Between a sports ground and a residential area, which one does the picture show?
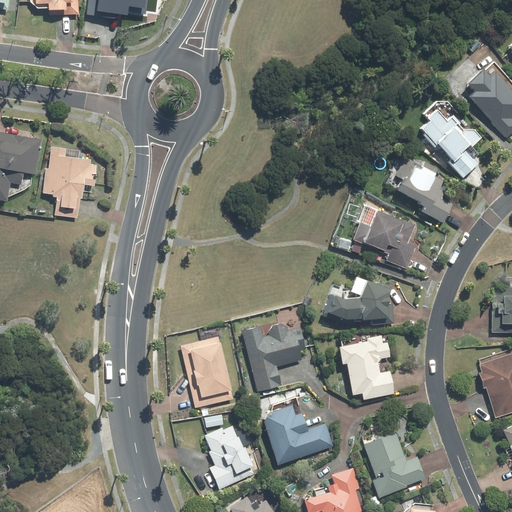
residential area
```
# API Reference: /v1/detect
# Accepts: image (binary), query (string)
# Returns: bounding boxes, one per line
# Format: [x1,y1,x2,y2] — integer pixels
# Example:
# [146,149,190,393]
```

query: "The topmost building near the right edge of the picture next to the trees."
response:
[464,61,512,139]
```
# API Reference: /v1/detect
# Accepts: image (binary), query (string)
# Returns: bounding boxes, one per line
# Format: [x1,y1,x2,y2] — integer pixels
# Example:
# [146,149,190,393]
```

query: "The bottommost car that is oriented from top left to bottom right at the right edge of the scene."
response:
[474,406,490,422]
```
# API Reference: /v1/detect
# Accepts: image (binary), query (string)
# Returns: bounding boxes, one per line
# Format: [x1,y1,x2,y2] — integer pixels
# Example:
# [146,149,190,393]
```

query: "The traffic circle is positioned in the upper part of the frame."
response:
[149,68,200,122]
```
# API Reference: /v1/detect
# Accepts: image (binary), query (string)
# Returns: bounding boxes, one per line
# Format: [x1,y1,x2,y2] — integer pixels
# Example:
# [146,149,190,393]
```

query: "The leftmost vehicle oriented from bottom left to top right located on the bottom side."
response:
[176,379,189,395]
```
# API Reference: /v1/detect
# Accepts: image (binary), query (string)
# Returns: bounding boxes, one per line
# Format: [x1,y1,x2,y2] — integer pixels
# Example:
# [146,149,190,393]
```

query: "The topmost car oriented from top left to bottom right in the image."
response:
[446,215,462,230]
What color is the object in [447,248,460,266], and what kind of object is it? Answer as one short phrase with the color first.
white vehicle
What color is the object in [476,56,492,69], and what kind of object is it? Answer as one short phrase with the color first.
white vehicle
